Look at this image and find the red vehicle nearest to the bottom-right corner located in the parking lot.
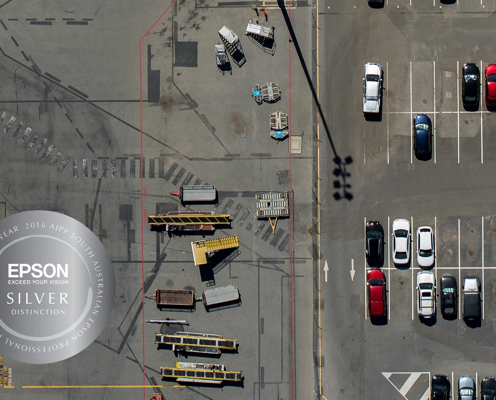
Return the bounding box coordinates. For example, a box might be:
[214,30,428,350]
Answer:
[365,268,386,316]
